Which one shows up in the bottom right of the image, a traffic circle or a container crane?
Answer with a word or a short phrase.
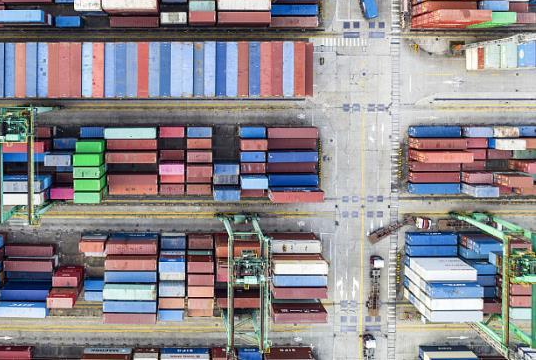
container crane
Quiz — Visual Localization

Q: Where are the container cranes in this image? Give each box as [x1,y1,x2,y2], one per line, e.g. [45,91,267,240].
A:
[445,216,536,359]
[214,219,270,358]
[0,105,69,227]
